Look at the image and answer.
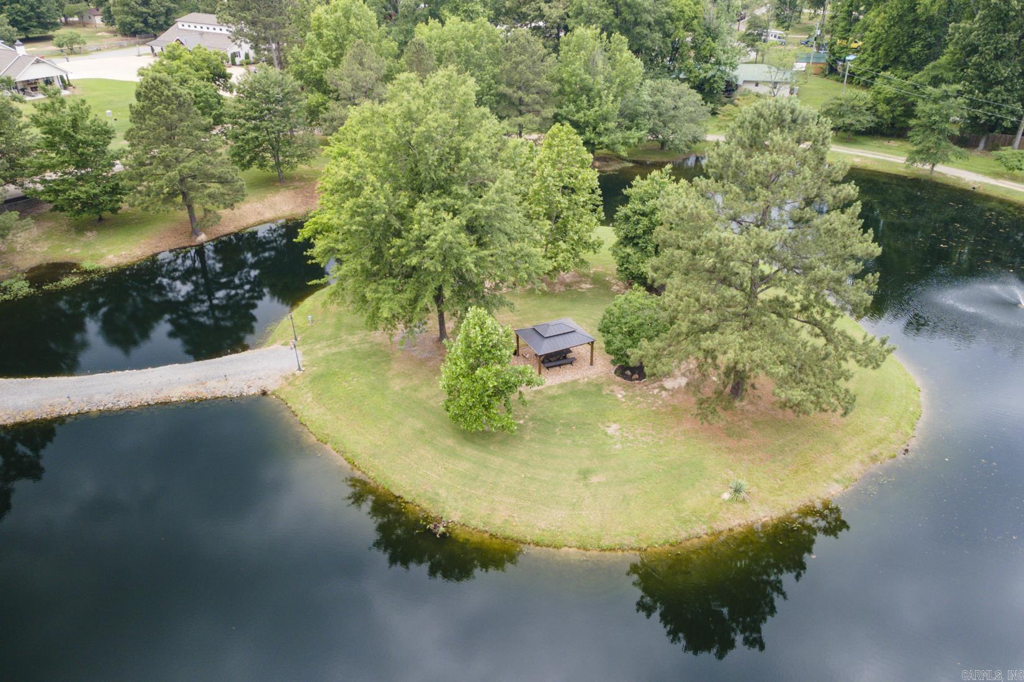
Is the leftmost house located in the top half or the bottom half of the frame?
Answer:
top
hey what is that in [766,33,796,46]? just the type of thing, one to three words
vehicle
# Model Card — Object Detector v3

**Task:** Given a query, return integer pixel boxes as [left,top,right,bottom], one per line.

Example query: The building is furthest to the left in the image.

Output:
[0,37,72,100]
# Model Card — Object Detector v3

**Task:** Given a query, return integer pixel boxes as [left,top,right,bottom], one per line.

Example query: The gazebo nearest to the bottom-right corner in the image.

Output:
[517,316,598,376]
